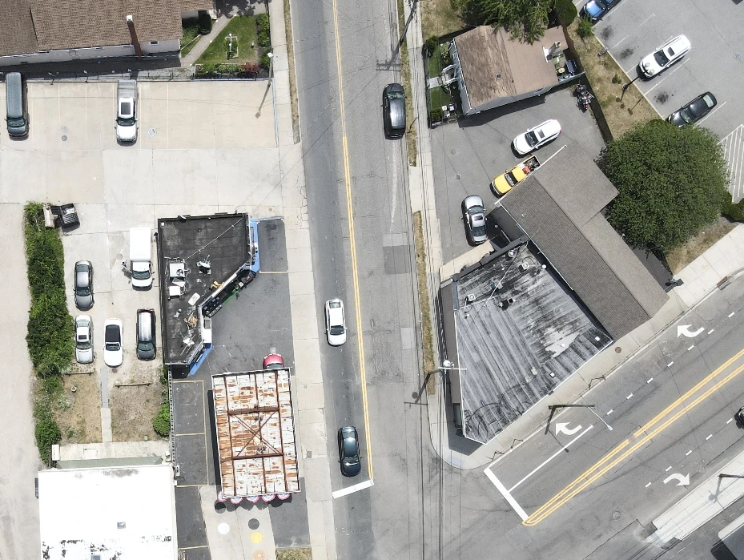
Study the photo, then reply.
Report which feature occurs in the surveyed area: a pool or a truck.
truck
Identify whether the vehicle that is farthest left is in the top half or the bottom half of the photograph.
top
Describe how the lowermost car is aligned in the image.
from top to bottom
